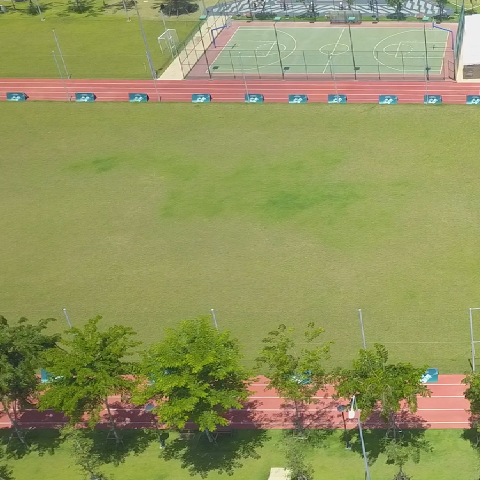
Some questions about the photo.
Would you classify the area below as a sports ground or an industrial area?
sports ground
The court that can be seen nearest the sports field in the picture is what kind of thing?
basketball court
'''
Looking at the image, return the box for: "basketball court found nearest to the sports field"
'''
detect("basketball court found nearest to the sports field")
[184,20,457,80]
